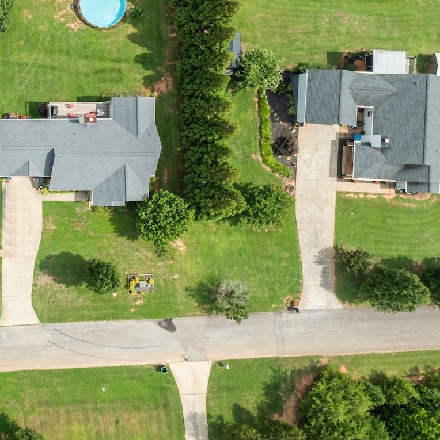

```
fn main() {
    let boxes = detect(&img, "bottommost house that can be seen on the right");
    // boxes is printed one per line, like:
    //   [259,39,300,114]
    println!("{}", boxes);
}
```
[295,69,440,195]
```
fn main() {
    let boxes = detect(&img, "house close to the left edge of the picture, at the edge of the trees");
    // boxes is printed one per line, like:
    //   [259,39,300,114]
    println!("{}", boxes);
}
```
[0,95,165,206]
